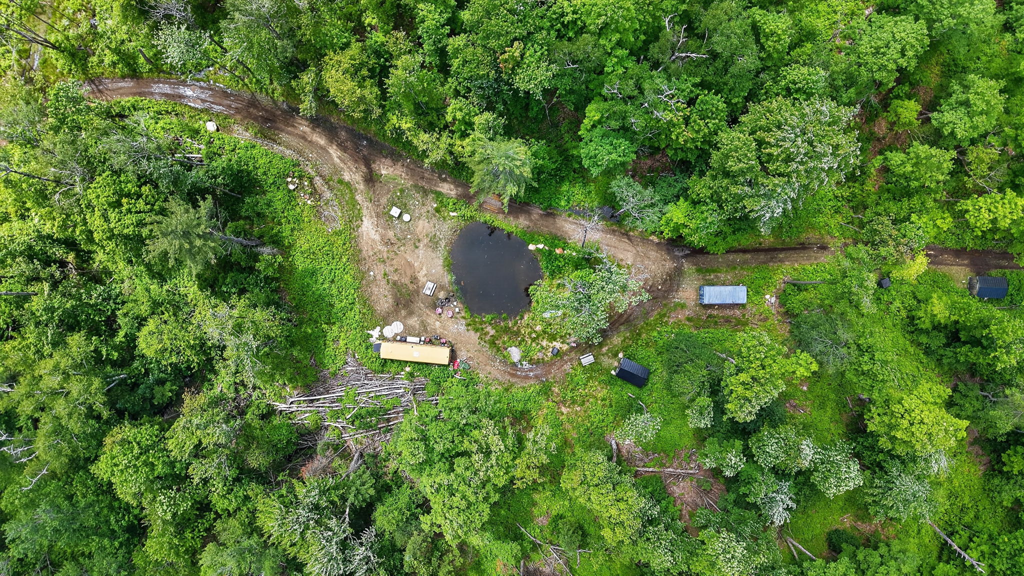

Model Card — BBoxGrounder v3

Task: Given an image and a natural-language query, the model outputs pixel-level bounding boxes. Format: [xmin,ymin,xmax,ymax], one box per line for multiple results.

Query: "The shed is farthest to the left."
[615,358,649,387]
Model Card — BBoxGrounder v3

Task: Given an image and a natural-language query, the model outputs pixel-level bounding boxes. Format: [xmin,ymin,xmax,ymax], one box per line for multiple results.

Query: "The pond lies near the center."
[453,224,541,318]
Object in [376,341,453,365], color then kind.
white bus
